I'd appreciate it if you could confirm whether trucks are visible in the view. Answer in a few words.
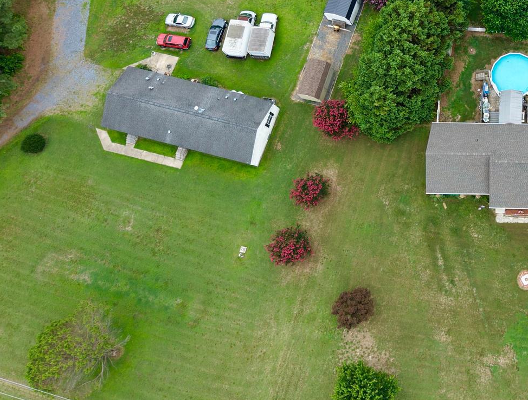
Yes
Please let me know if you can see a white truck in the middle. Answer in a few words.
No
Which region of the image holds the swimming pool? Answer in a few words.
top right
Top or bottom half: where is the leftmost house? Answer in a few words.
top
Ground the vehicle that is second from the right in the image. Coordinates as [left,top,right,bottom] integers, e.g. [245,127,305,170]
[224,11,257,63]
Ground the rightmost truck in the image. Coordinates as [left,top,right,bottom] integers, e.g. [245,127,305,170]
[249,13,280,64]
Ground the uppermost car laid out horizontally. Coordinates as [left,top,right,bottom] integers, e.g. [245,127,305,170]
[164,12,198,30]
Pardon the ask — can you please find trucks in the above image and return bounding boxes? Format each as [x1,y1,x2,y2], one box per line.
[249,13,280,64]
[224,11,257,63]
